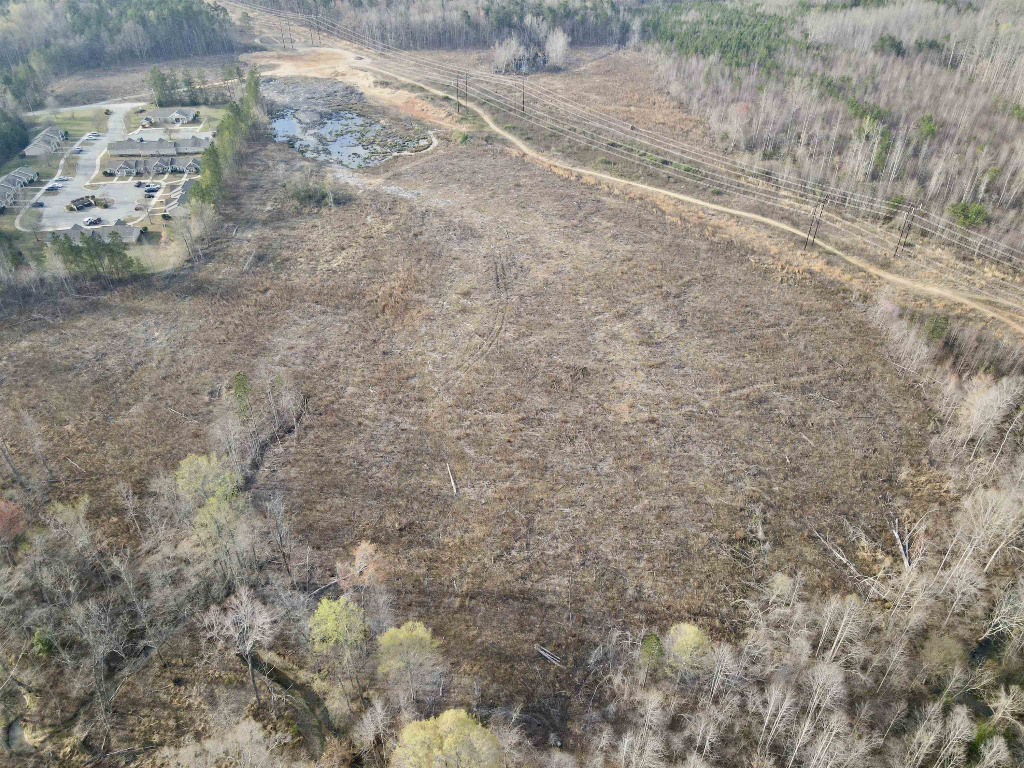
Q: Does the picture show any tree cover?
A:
Yes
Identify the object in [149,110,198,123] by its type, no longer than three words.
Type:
building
